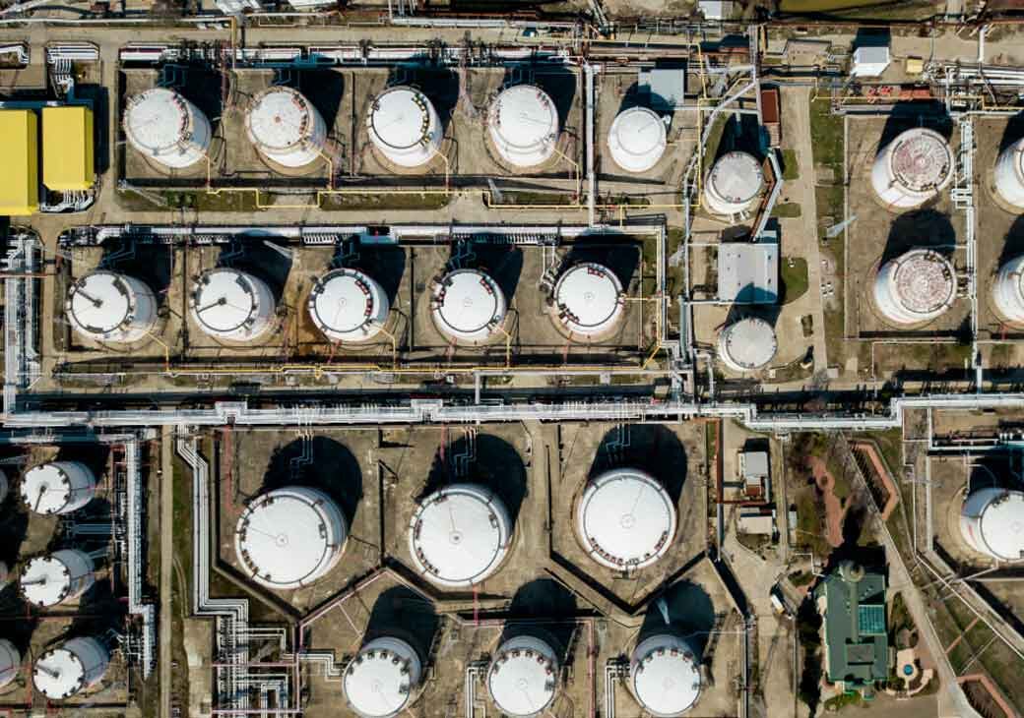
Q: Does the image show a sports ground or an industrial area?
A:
industrial area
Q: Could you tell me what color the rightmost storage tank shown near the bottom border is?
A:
white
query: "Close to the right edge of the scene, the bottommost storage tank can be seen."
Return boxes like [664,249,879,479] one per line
[954,476,1024,569]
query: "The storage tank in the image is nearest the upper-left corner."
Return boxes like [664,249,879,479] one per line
[124,86,216,172]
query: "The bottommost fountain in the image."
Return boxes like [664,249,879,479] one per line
[897,650,918,690]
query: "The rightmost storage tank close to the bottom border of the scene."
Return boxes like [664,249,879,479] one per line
[626,631,705,717]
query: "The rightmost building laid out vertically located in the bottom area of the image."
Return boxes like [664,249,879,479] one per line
[820,556,885,697]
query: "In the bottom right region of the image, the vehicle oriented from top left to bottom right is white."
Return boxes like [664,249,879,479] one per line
[770,594,787,615]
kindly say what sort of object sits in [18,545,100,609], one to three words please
storage tank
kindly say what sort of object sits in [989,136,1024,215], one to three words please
storage tank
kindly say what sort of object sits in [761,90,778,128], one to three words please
building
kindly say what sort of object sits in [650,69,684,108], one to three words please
shed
